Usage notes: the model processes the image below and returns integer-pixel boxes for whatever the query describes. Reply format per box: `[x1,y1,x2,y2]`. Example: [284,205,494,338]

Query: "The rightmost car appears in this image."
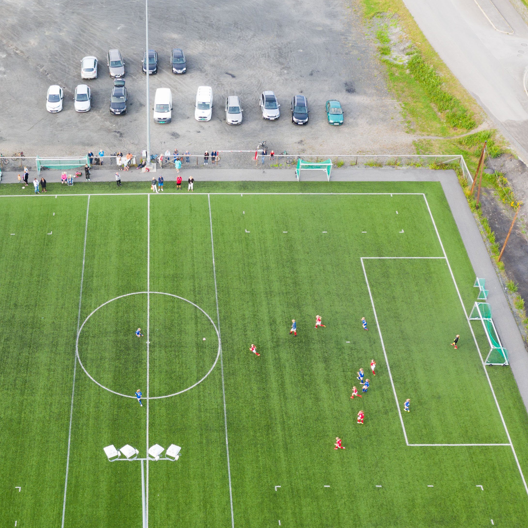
[324,99,345,125]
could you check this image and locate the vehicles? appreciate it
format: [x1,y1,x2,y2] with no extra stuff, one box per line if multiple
[73,85,92,112]
[225,95,244,125]
[170,47,187,74]
[109,76,128,115]
[193,85,213,121]
[153,86,173,123]
[291,94,310,125]
[108,50,125,78]
[259,89,280,120]
[141,47,159,74]
[45,86,63,113]
[80,57,98,80]
[324,99,345,125]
